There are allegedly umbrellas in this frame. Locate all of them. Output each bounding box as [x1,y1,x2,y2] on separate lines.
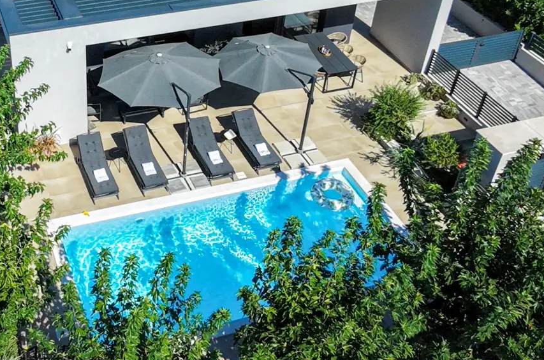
[209,31,330,165]
[99,42,219,188]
